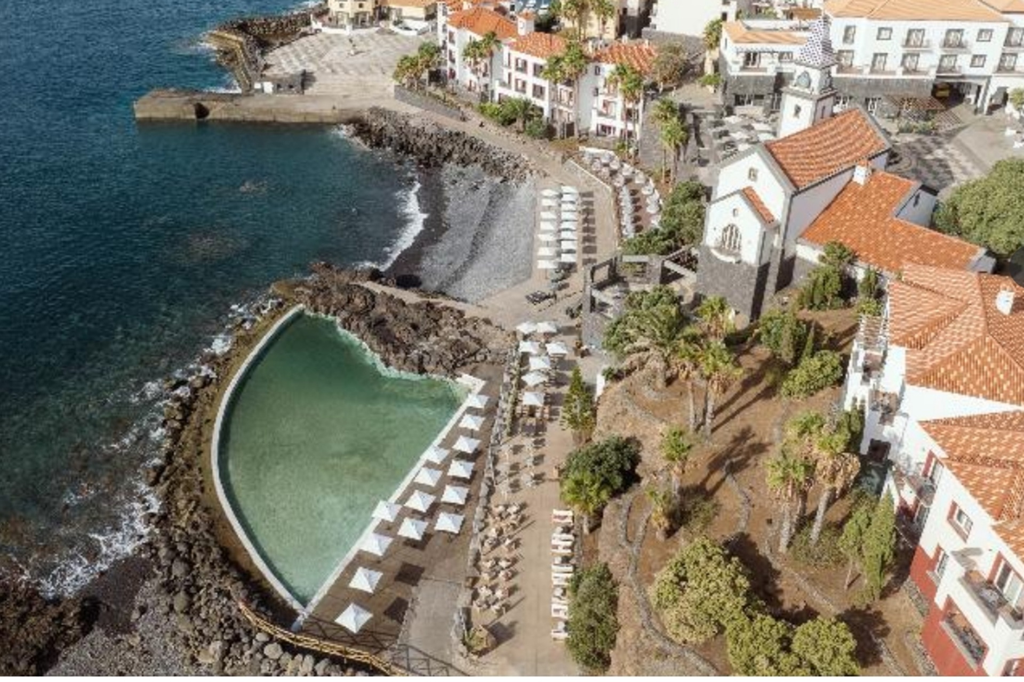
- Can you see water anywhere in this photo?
Yes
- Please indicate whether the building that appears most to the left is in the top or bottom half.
top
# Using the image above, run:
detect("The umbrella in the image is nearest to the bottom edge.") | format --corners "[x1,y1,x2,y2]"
[333,607,371,642]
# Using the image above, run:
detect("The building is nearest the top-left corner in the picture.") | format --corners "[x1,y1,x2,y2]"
[274,69,316,95]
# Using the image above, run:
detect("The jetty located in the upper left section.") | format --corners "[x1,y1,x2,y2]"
[134,88,380,122]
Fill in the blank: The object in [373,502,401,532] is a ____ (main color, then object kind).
white umbrella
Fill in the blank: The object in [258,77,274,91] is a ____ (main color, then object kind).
white vehicle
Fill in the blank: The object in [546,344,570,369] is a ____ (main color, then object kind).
white umbrella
